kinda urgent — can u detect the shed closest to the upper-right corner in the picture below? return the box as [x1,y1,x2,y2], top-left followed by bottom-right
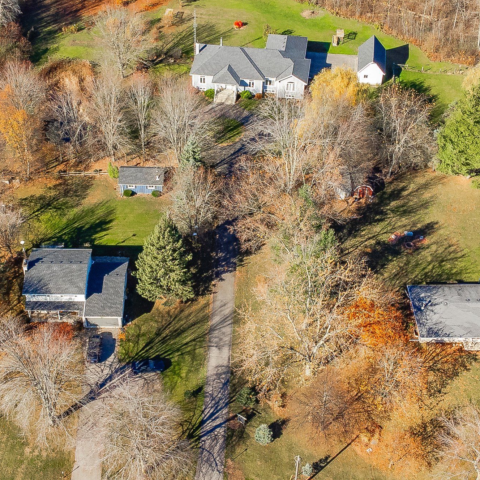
[358,37,385,85]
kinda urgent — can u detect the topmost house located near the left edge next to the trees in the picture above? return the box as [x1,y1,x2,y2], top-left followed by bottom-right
[17,247,130,328]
